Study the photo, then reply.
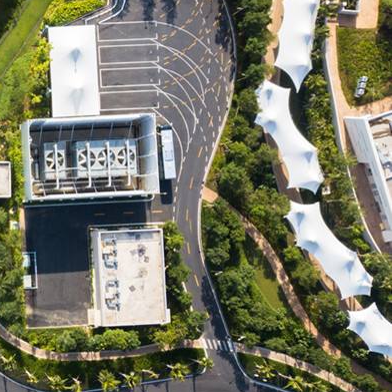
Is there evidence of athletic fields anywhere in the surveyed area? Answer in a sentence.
No, there isn't any athletic field down there.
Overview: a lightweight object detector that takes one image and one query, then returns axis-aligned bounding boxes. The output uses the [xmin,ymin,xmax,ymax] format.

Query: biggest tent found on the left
[43,26,100,117]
